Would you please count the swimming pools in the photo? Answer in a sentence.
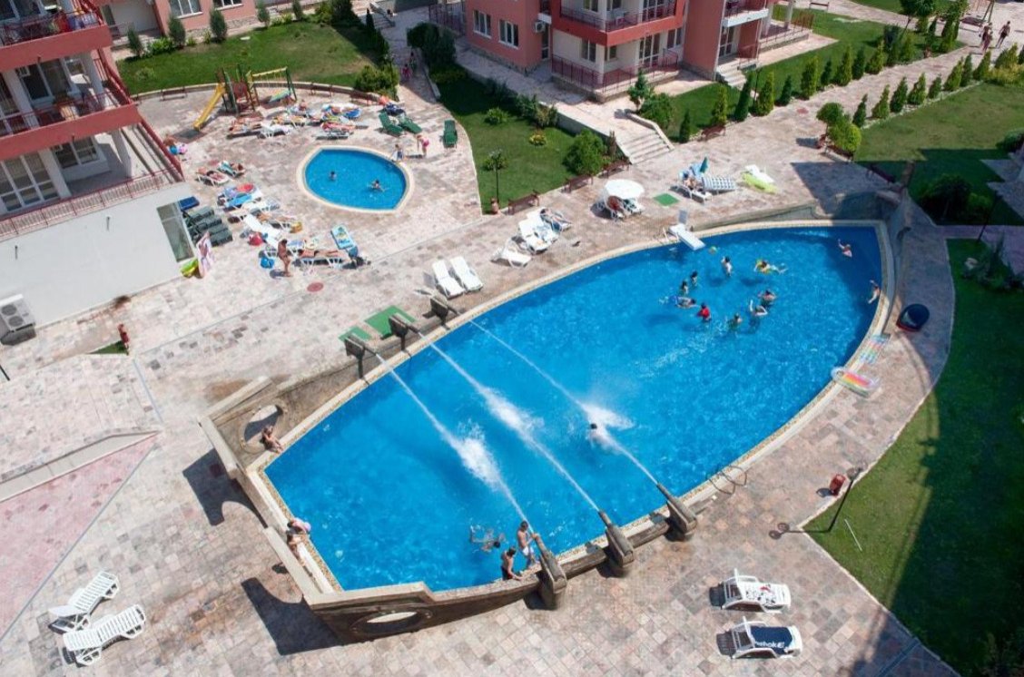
Looking from above, you can make out 2 swimming pools.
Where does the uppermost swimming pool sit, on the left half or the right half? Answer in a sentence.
The uppermost swimming pool appears in the left half of the scene.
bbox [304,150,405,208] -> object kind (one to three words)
swimming pool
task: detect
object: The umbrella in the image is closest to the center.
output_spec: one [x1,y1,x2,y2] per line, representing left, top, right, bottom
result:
[606,177,648,203]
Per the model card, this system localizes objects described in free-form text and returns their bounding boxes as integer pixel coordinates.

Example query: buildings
[0,0,214,347]
[460,0,813,102]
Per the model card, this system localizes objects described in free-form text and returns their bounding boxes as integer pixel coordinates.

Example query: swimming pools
[267,228,880,616]
[304,150,405,208]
